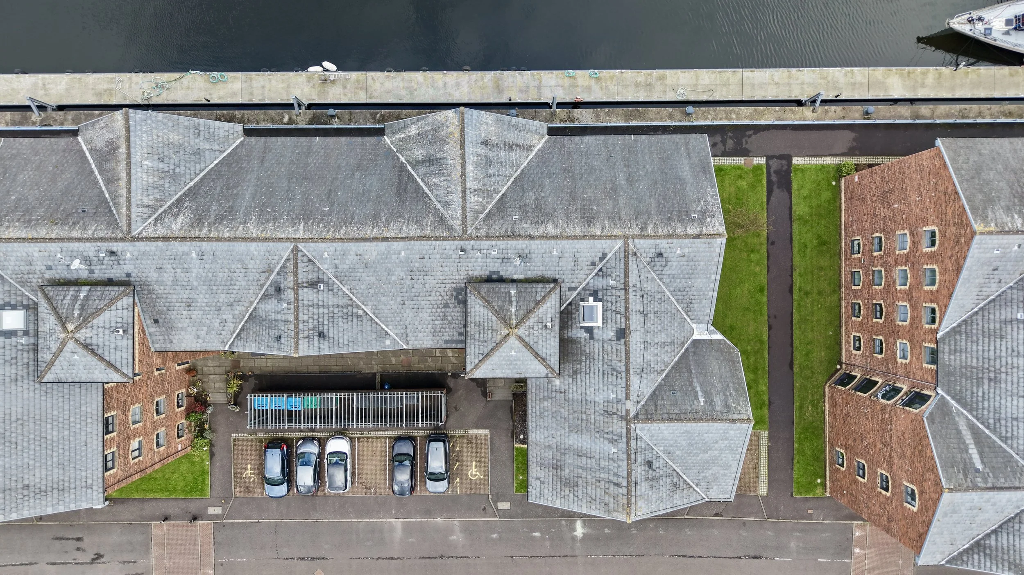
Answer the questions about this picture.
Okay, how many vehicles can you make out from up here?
five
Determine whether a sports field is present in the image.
No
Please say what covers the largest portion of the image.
buildings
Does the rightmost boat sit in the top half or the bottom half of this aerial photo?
top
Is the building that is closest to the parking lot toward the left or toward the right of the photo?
left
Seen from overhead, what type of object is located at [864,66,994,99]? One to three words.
pier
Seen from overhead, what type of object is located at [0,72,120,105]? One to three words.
pier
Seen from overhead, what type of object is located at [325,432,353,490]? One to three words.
car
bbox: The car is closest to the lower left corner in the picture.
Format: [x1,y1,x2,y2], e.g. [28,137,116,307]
[262,440,293,497]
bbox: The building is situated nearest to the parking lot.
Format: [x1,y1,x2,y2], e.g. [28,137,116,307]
[245,386,450,430]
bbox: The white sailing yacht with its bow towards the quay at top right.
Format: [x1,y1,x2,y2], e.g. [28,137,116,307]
[945,4,1024,57]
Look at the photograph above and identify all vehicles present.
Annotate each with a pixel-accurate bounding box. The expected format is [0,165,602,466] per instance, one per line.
[325,432,353,490]
[262,440,293,497]
[295,435,323,493]
[390,433,418,494]
[423,431,450,489]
